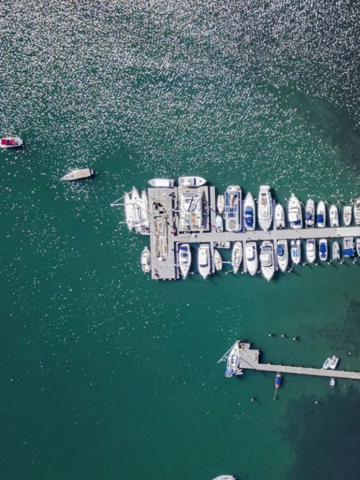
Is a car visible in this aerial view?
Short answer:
No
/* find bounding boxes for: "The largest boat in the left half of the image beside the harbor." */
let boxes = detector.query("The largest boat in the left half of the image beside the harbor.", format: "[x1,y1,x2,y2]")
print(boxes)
[110,187,147,231]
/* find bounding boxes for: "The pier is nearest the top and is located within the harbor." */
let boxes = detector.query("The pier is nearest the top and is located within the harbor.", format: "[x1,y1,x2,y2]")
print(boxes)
[177,187,209,231]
